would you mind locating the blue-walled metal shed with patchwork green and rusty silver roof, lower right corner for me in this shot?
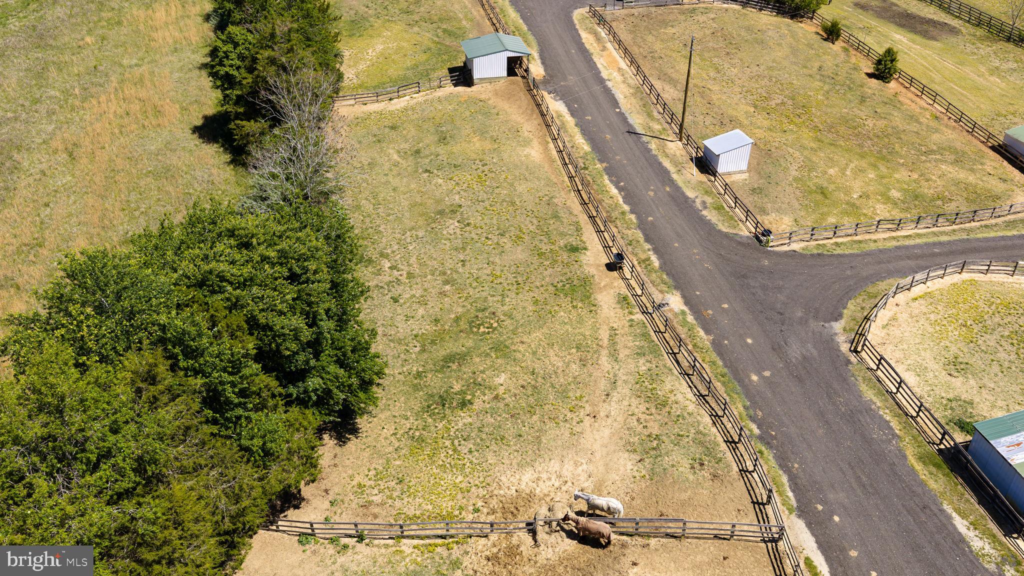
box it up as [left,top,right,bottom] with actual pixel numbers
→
[971,410,1024,511]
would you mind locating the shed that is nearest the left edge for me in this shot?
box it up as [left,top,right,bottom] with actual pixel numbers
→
[460,32,533,84]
